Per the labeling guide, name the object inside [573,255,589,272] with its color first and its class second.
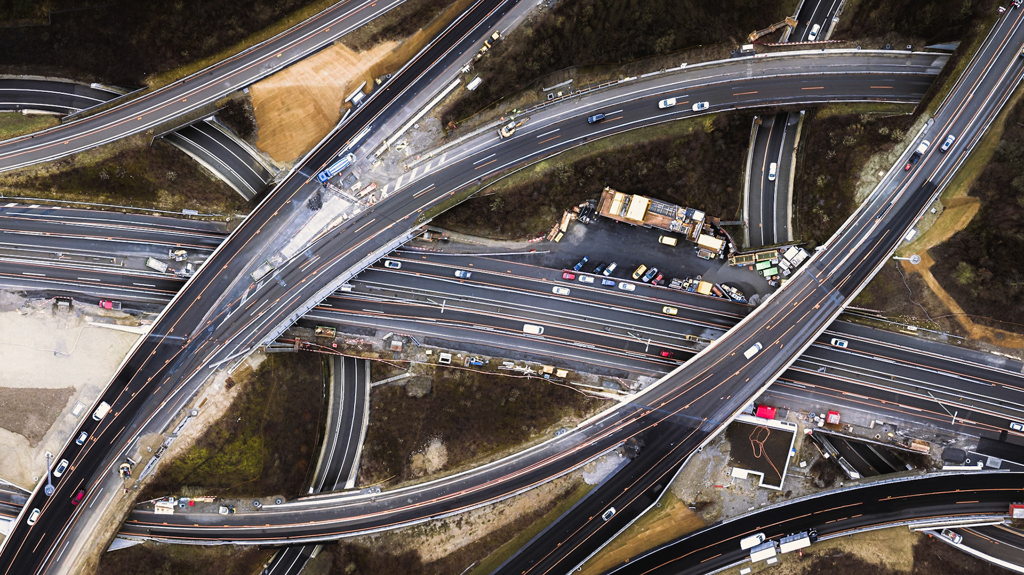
blue car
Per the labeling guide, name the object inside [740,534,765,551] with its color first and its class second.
white vehicle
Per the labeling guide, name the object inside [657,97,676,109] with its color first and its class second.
white vehicle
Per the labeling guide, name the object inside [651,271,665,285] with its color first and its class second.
red car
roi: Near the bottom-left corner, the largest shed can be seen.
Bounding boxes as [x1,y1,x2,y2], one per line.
[155,496,178,515]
